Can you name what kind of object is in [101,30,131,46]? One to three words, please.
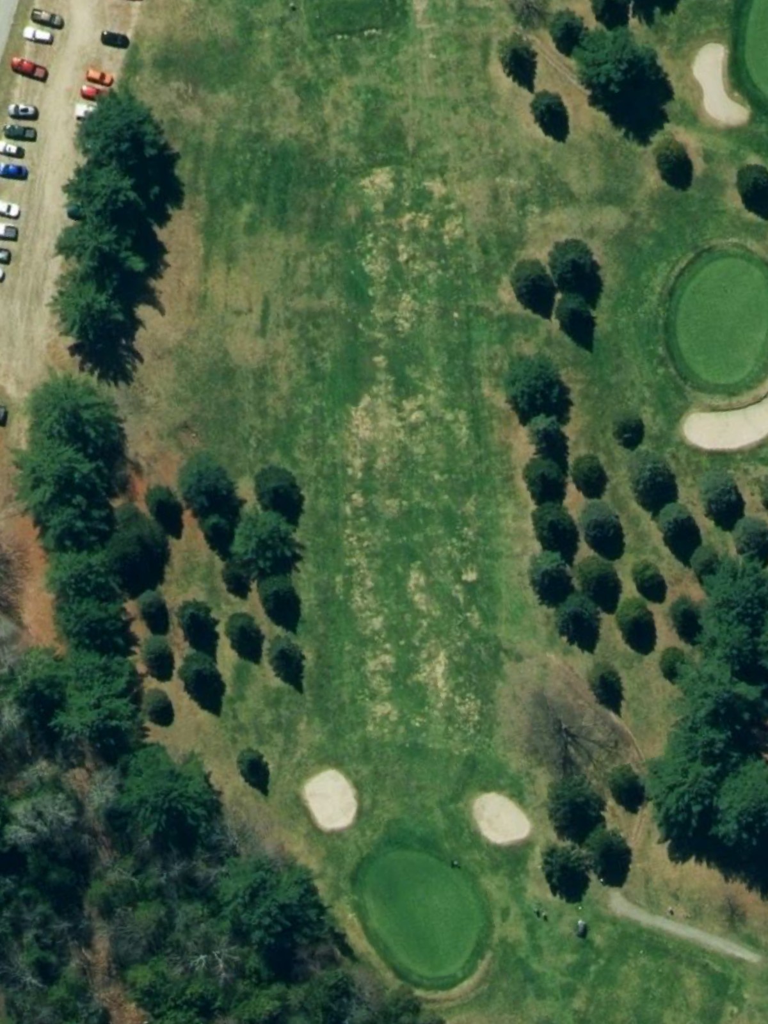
car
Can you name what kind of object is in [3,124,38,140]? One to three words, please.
vehicle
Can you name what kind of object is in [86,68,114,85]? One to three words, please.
car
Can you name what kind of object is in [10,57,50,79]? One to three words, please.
truck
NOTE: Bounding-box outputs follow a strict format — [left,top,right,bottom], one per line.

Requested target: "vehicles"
[0,250,11,263]
[8,103,39,119]
[3,124,38,140]
[101,30,131,46]
[0,224,19,238]
[0,142,25,158]
[79,83,107,99]
[0,162,28,178]
[10,57,50,79]
[74,102,95,118]
[0,202,21,217]
[86,68,114,85]
[23,26,54,43]
[29,7,66,28]
[63,204,91,217]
